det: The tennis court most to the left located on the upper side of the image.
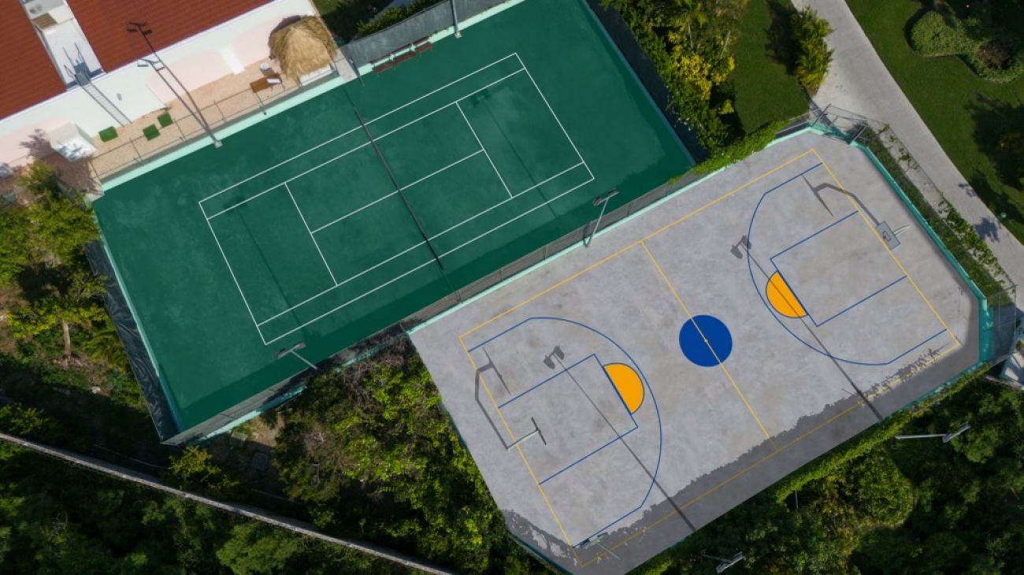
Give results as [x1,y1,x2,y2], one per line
[98,0,692,434]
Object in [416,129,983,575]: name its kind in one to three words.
basketball court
